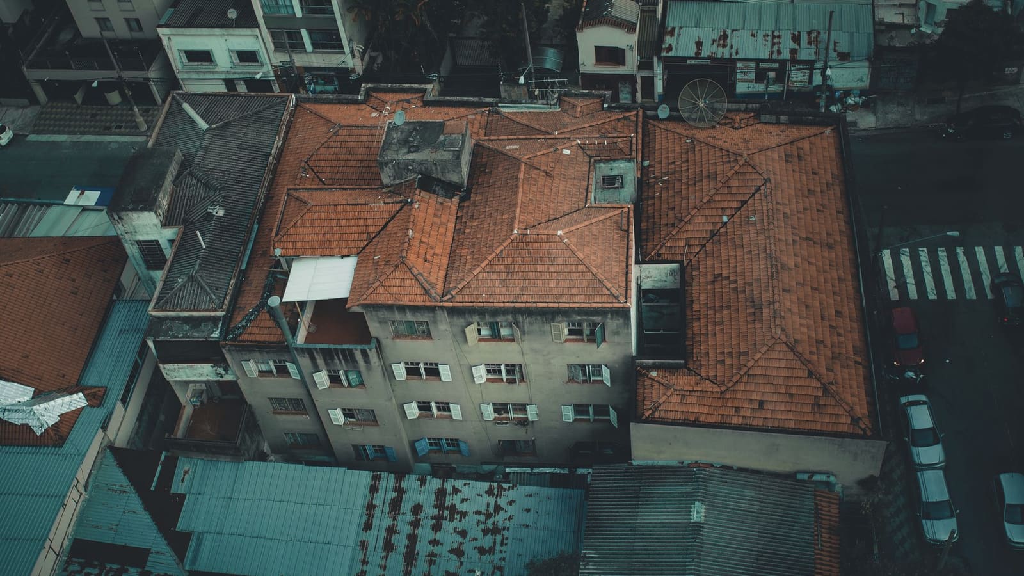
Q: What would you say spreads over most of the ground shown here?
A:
buildings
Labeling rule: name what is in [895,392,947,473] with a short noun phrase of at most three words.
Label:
car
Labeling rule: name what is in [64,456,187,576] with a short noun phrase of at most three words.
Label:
shed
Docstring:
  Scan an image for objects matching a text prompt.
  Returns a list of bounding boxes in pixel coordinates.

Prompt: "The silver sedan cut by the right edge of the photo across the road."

[991,472,1024,553]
